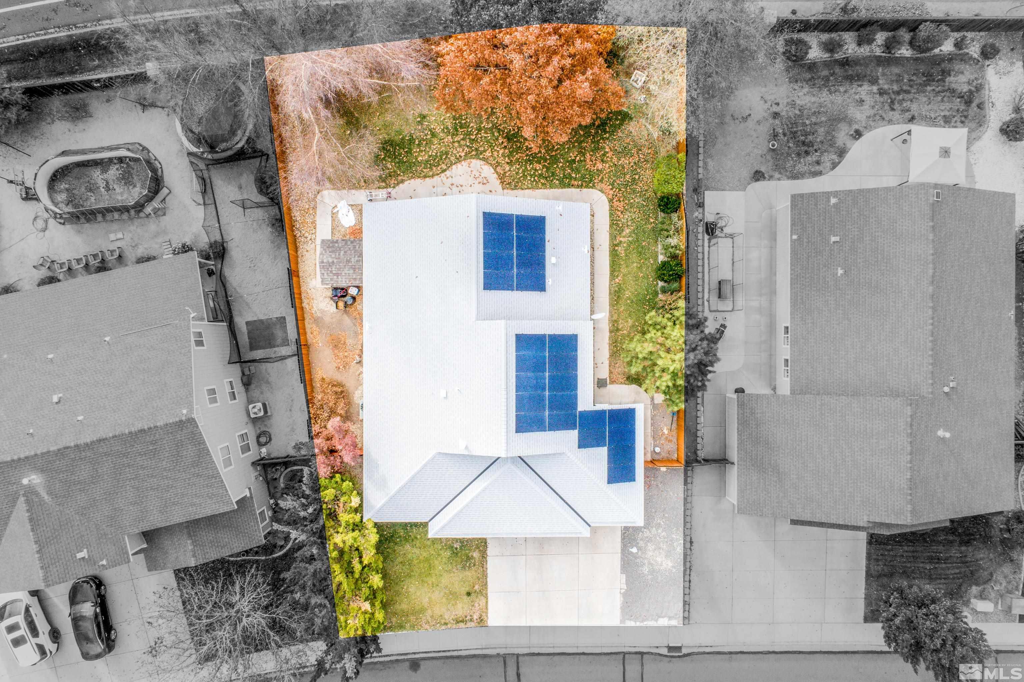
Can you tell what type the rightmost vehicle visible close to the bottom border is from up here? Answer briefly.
automobile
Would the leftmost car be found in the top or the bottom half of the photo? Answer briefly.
bottom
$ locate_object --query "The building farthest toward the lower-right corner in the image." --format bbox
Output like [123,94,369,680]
[726,182,1016,535]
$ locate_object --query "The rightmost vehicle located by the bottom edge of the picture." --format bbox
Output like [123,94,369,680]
[66,577,119,657]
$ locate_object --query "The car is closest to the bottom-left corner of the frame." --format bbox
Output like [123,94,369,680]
[0,589,61,664]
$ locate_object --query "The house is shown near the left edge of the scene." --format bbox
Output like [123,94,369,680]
[0,251,274,592]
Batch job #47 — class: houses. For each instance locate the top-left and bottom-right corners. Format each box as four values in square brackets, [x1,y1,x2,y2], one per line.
[0,251,274,592]
[362,194,645,539]
[726,182,1016,535]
